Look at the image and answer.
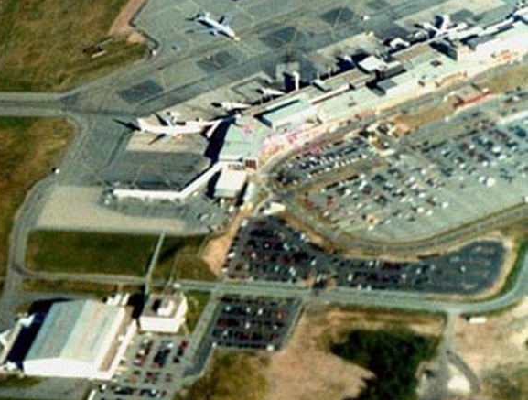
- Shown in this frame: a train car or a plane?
plane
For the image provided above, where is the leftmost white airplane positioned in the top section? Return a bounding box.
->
[142,114,202,141]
